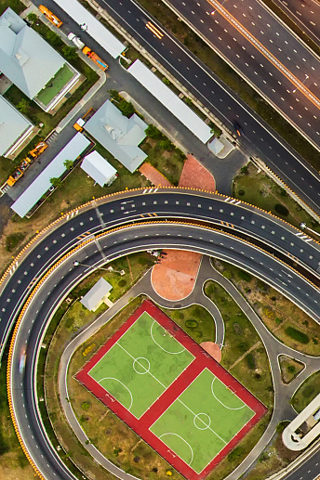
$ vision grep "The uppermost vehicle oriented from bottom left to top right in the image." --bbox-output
[73,109,91,128]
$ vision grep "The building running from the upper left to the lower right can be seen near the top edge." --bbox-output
[0,1,87,115]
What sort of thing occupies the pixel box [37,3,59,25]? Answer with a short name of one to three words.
truck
